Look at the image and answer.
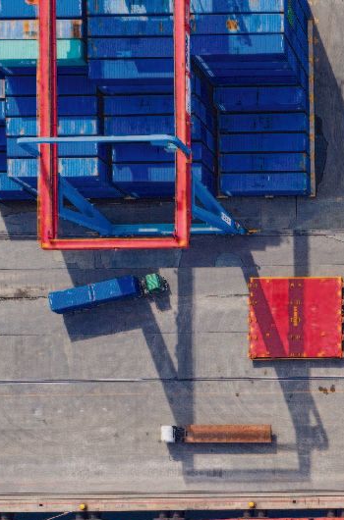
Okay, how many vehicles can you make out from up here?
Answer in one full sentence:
The count of vehicles comes to 2.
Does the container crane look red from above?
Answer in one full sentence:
Yes, the container crane is red.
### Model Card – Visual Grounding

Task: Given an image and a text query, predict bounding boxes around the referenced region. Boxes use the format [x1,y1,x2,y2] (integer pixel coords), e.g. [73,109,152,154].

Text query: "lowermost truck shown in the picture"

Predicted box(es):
[161,423,271,445]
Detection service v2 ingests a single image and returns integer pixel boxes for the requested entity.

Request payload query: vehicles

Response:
[58,269,170,314]
[161,423,271,445]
